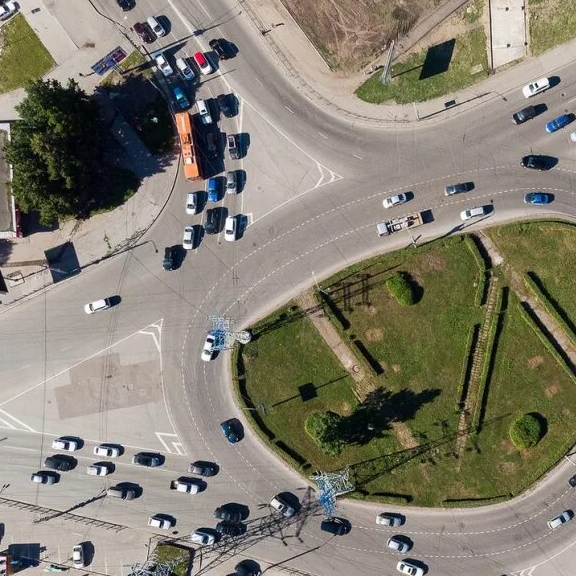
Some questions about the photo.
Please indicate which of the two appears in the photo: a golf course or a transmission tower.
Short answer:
transmission tower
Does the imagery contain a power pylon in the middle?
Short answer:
Yes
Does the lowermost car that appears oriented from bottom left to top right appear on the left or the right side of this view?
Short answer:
right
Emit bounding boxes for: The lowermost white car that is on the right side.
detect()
[396,560,423,576]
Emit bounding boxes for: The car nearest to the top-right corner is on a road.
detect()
[522,78,549,97]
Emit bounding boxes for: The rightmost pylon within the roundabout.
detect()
[317,465,357,516]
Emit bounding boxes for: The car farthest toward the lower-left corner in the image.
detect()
[70,544,85,567]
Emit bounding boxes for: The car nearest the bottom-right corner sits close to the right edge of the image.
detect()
[548,509,574,529]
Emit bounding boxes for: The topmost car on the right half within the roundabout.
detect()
[518,154,548,169]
